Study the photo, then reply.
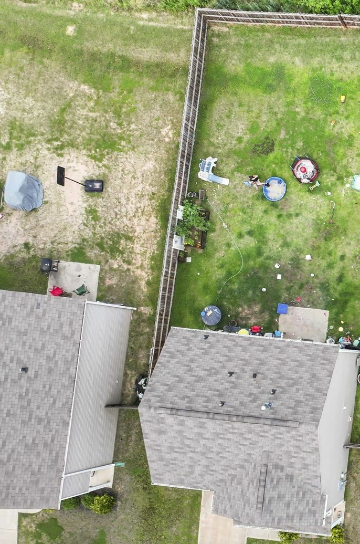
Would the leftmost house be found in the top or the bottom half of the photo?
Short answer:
bottom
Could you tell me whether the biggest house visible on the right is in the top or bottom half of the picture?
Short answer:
bottom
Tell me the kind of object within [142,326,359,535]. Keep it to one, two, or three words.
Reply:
house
